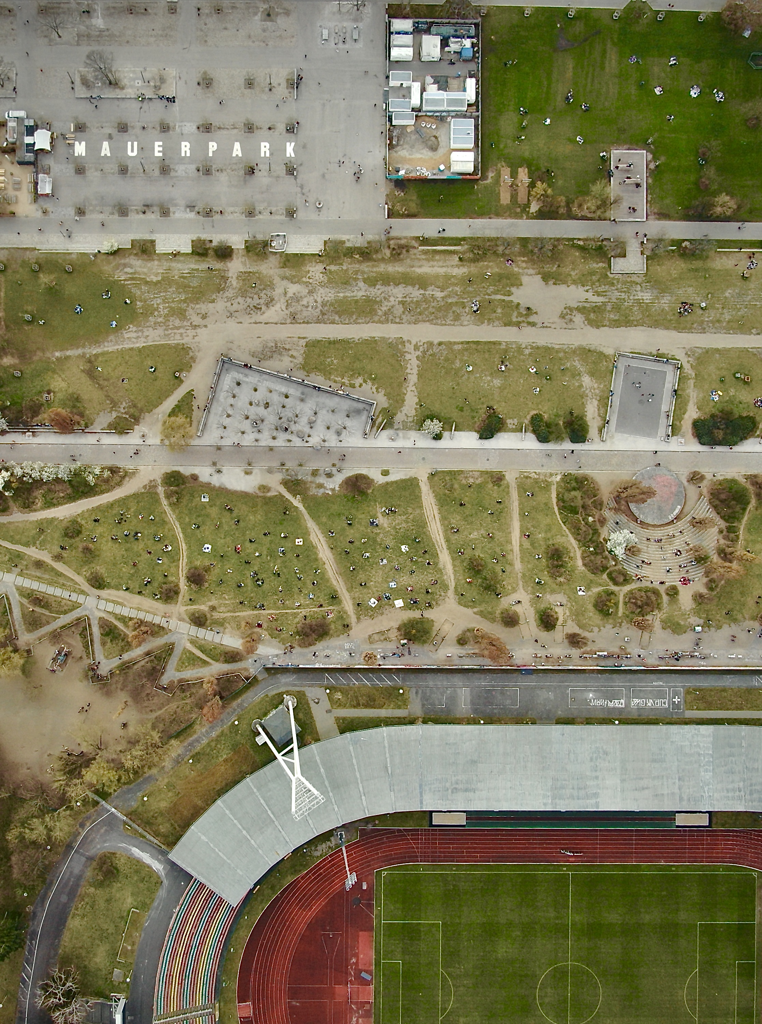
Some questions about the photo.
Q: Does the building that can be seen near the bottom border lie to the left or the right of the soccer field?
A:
left of it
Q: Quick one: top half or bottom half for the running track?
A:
bottom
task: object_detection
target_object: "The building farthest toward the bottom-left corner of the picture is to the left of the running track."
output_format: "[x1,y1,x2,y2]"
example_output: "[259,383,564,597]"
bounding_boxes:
[78,994,118,1024]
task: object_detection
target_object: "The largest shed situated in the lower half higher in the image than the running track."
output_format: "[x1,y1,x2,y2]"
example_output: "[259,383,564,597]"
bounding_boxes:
[262,705,301,746]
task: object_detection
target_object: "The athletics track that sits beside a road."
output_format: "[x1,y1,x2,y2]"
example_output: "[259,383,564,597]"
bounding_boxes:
[237,828,762,1024]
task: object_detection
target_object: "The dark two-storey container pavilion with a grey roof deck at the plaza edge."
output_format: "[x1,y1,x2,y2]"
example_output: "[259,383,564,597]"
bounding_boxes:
[16,119,39,166]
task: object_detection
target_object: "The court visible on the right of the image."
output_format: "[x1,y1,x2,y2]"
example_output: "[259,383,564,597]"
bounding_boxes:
[605,357,679,441]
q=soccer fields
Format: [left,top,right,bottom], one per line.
[375,863,762,1024]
